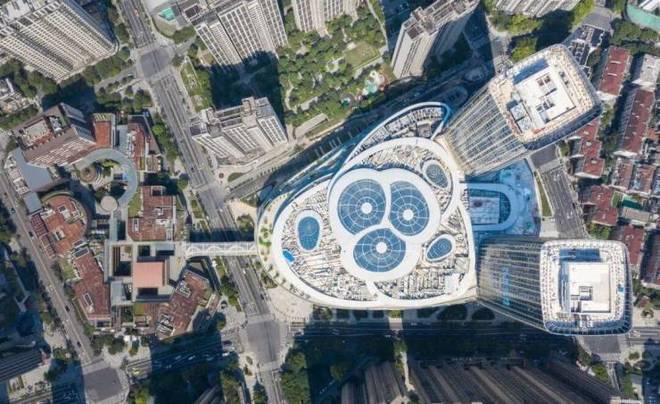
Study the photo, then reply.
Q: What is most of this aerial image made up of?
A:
buildings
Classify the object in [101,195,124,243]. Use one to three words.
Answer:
building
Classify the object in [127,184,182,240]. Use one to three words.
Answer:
building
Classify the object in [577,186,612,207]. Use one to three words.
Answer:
house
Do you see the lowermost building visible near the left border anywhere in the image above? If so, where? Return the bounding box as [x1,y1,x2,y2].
[0,342,46,389]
